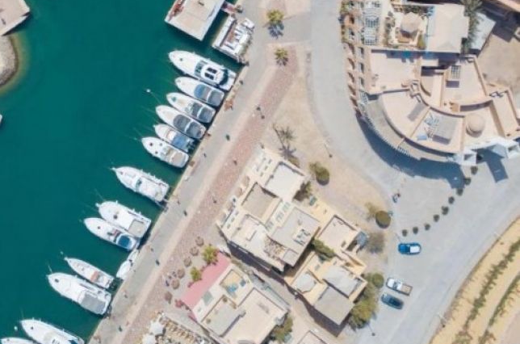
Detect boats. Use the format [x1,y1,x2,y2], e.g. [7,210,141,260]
[59,255,127,298]
[126,249,138,264]
[47,273,113,317]
[153,124,202,163]
[90,199,153,239]
[115,260,128,278]
[166,93,216,125]
[83,218,147,258]
[19,318,89,344]
[155,106,210,143]
[107,165,184,205]
[168,49,240,93]
[0,336,39,344]
[141,139,189,171]
[174,77,229,109]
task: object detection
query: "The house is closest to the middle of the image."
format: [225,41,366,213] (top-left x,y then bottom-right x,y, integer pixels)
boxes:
[212,145,321,265]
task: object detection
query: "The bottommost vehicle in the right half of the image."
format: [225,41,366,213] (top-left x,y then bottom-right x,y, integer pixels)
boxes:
[379,292,403,309]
